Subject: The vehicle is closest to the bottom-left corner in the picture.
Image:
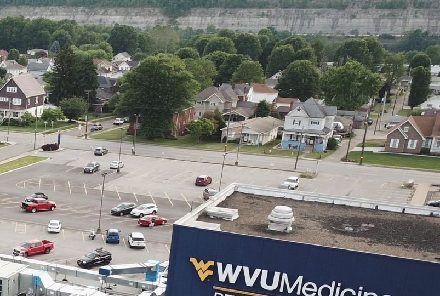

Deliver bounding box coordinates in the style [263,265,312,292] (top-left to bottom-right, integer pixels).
[12,238,53,256]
